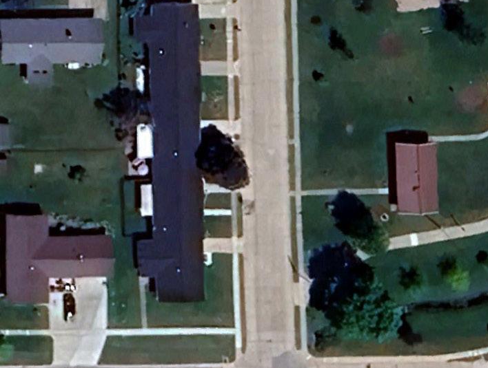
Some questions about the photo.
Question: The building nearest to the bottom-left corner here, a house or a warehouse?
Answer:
house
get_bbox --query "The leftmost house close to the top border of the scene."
[0,16,108,85]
